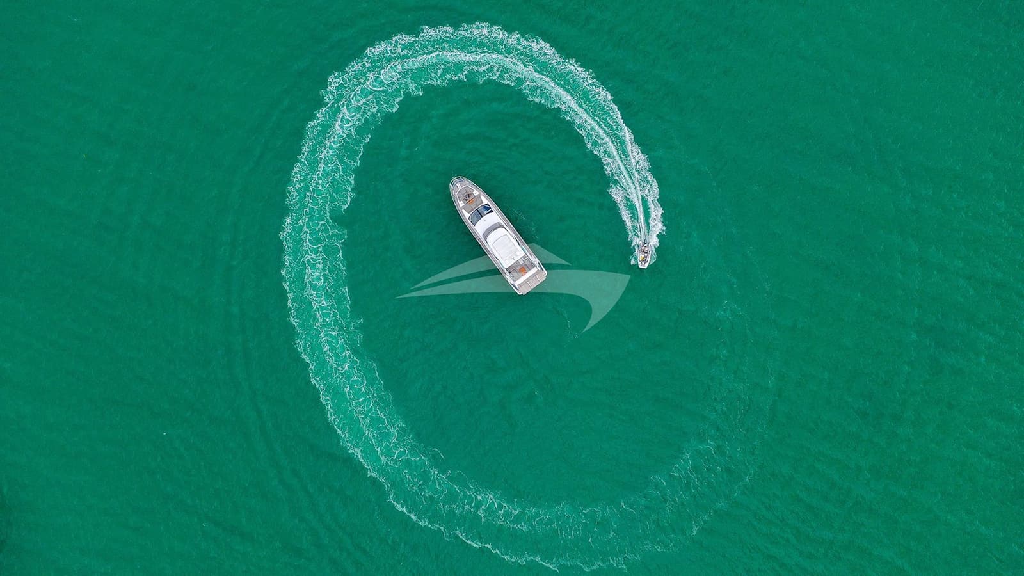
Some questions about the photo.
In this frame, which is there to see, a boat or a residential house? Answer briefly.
boat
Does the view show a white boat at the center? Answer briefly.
Yes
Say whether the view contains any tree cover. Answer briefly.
No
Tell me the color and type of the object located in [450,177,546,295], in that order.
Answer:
white boat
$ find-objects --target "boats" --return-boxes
[638,238,652,268]
[450,177,546,295]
